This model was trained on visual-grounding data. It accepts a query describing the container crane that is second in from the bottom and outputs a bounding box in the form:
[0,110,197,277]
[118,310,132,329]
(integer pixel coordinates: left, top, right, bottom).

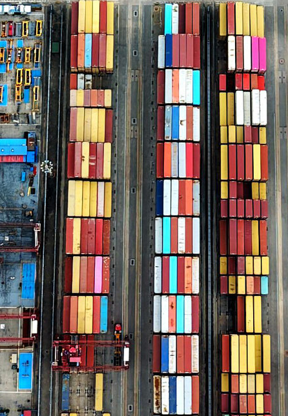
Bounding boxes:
[0,308,42,342]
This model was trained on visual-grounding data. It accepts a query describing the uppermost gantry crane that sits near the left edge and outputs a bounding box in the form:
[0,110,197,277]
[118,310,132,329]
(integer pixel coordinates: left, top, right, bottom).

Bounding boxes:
[0,223,44,255]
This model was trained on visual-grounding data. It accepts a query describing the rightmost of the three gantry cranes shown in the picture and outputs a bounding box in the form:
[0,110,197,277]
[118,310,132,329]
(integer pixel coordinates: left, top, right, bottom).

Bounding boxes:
[52,334,129,373]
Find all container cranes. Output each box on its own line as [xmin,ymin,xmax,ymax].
[52,334,129,373]
[0,223,44,255]
[0,308,42,342]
